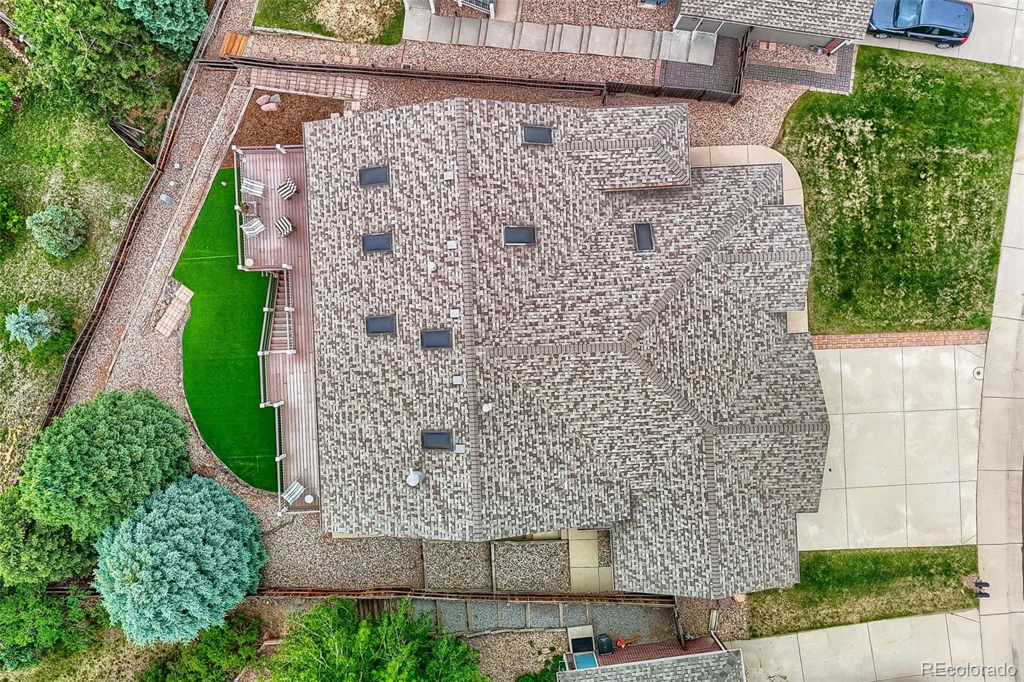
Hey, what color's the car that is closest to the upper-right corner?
blue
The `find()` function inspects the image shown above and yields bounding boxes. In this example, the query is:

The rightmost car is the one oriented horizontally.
[867,0,981,51]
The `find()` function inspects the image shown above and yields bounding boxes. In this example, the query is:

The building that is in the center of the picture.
[299,96,830,599]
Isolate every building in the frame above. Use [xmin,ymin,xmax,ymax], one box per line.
[670,0,876,52]
[299,96,830,599]
[553,633,747,682]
